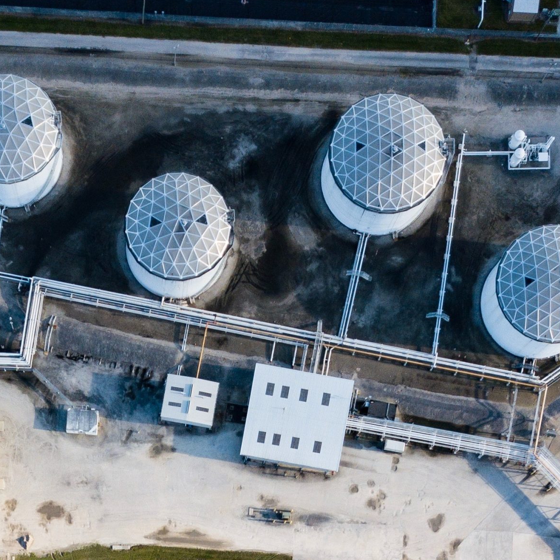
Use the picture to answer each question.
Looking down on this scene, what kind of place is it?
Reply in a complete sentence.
This image shows an industrial area.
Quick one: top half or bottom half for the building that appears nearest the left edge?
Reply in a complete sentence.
The building that appears nearest the left edge sits in the bottom half of the picture.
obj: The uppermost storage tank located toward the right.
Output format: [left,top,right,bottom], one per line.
[320,93,459,235]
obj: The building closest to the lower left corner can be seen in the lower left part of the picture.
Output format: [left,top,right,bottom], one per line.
[67,404,101,438]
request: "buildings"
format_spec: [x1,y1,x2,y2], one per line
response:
[239,363,353,480]
[160,374,220,431]
[505,0,537,25]
[67,404,101,438]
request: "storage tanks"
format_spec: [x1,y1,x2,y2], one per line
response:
[320,93,459,235]
[0,73,70,208]
[125,173,244,299]
[479,226,560,358]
